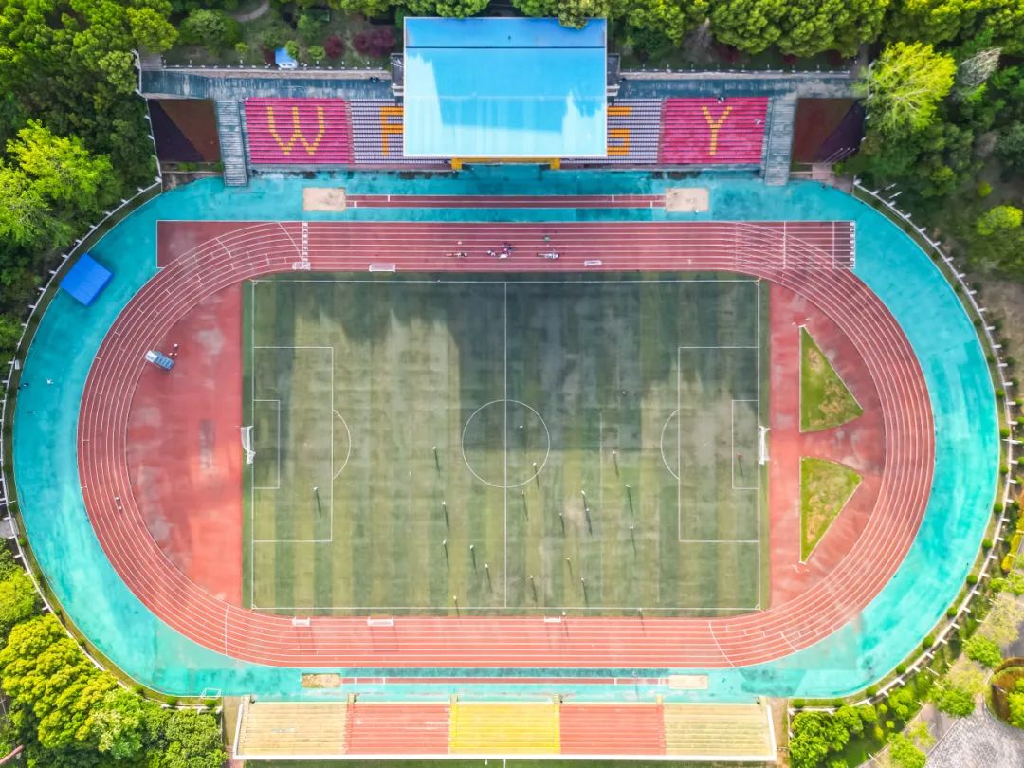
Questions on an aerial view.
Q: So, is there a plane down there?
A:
No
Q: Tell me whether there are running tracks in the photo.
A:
Yes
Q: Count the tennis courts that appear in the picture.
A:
0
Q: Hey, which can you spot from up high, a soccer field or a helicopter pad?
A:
soccer field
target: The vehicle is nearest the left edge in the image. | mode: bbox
[142,348,175,371]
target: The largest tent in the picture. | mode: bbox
[61,253,120,306]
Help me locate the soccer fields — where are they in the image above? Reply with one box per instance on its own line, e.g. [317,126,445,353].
[242,271,769,618]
